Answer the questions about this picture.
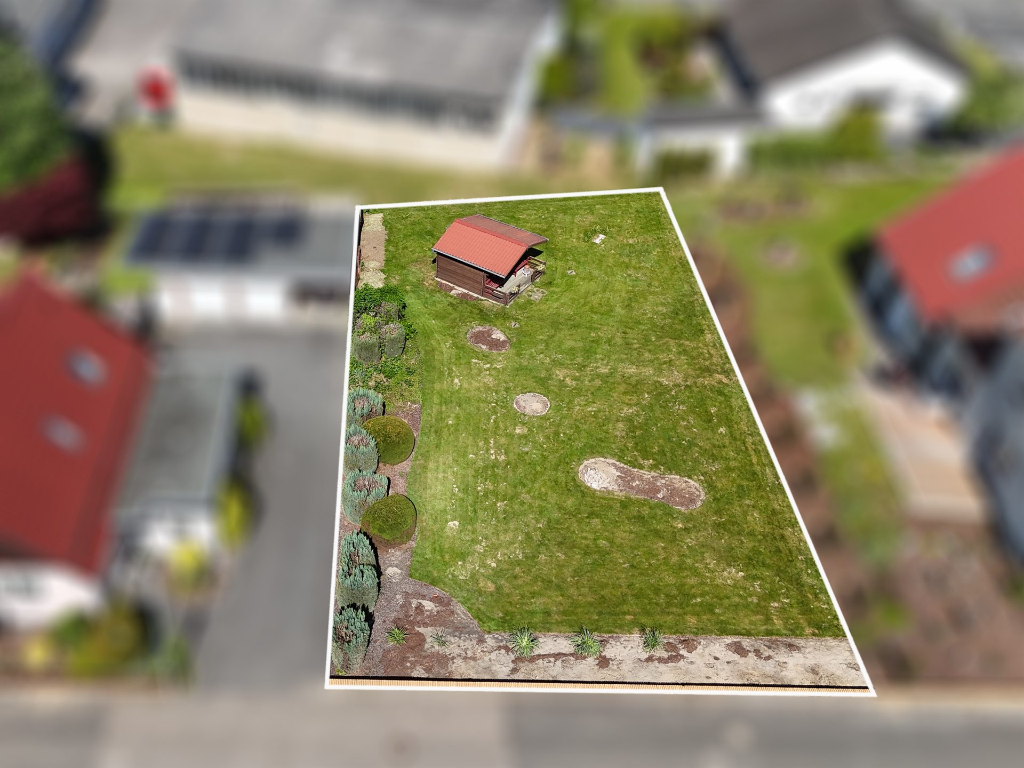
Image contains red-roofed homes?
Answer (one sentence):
Yes, there is a red-roofed home in the image.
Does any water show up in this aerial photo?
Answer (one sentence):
No, water can't be seen anywhere here.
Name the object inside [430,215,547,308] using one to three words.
building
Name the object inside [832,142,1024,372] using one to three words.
house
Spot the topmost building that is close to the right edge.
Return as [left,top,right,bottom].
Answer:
[718,0,987,144]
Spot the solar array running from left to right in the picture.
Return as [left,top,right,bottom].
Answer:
[136,213,298,259]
